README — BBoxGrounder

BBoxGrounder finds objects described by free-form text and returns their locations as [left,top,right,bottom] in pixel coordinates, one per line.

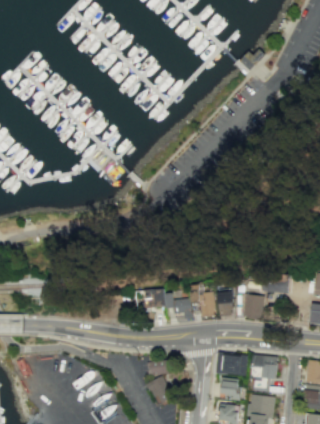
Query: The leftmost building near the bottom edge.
[147,361,167,405]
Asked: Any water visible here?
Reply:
Yes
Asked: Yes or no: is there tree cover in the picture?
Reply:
Yes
